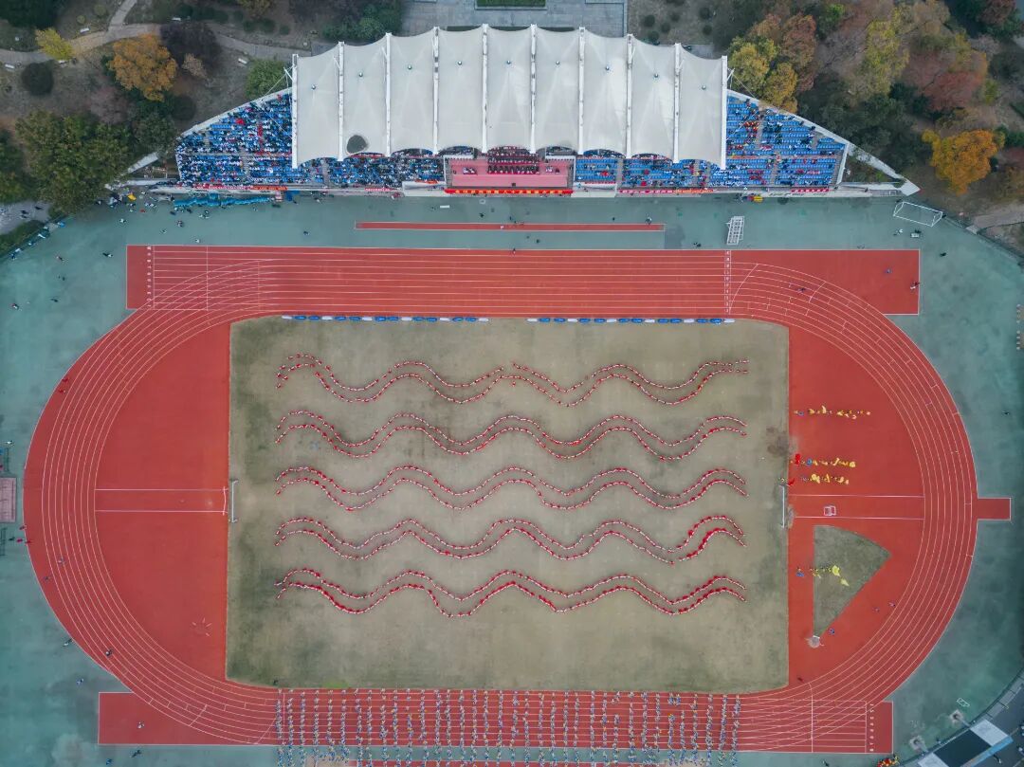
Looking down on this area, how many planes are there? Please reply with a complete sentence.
I count no planes.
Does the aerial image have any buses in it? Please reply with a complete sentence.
No, this view has no bus in it.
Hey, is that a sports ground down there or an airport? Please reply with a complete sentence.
This looks like a sports ground.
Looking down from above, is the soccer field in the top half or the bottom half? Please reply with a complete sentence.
It is in the bottom half that the soccer field appears.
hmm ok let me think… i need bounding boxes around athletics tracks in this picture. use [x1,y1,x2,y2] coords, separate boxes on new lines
[24,245,1011,751]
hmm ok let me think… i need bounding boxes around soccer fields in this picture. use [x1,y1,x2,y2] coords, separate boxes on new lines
[226,315,790,693]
